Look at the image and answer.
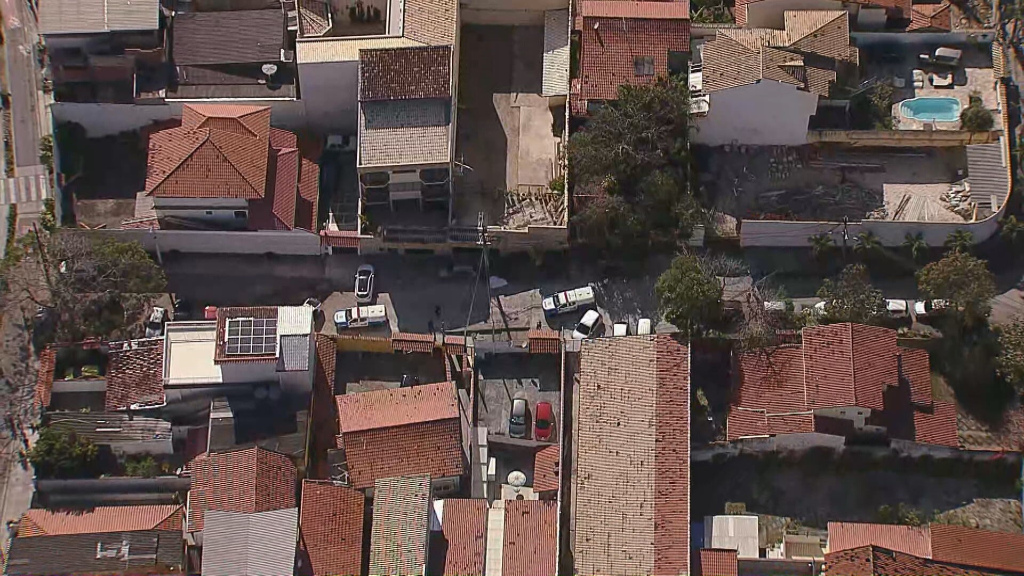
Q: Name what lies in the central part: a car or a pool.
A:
car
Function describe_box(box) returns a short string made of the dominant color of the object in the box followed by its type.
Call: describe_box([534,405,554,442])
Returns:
red car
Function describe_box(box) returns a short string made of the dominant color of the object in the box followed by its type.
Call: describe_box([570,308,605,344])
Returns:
white car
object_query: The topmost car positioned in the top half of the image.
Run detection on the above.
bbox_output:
[321,135,359,155]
